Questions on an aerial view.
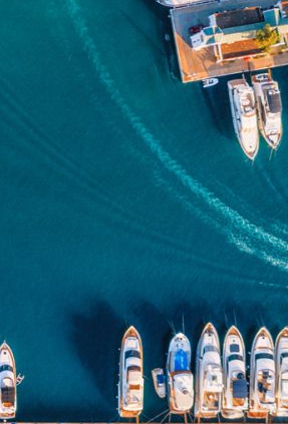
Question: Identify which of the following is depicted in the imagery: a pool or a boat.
boat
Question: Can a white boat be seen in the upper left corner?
No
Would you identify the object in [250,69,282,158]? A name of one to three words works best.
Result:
boat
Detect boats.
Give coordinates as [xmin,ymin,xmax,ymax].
[151,320,195,424]
[251,74,266,82]
[250,69,282,158]
[226,74,258,160]
[16,374,24,385]
[118,312,145,424]
[221,312,250,424]
[195,309,223,424]
[249,314,276,424]
[157,0,212,11]
[202,79,218,87]
[0,331,18,424]
[153,367,165,398]
[273,313,288,416]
